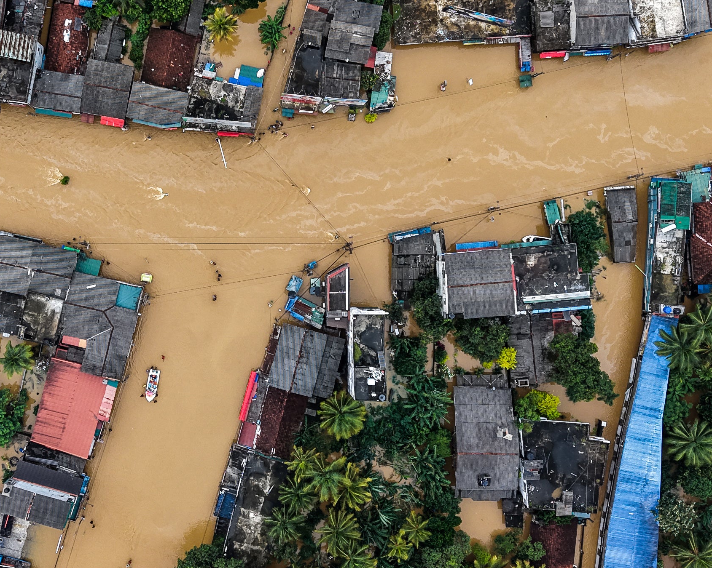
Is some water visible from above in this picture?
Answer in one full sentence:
Yes, some water is visible.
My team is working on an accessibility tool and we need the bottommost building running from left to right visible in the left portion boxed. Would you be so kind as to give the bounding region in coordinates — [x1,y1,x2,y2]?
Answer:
[0,487,82,531]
